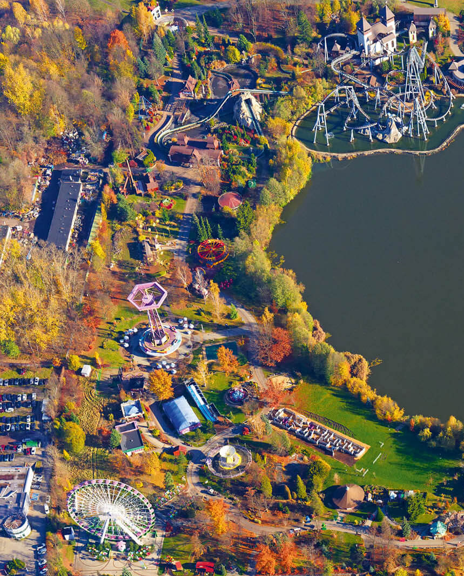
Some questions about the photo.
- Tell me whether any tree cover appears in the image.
Yes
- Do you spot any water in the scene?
Yes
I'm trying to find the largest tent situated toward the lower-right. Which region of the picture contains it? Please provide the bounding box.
[331,485,365,514]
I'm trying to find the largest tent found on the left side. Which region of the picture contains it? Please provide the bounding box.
[166,395,200,439]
